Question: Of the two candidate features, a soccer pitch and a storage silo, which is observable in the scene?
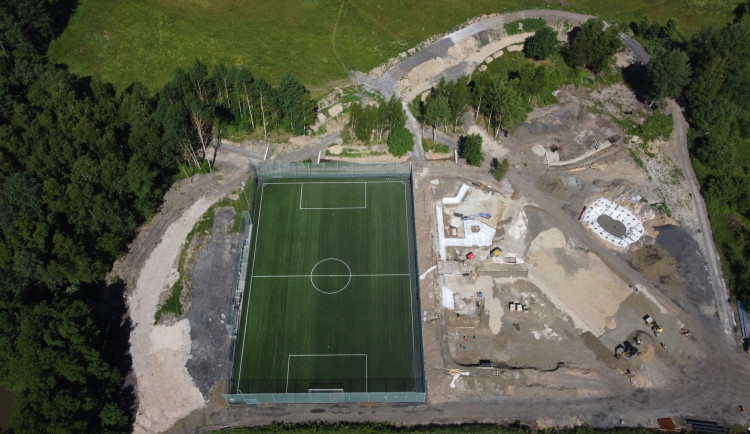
soccer pitch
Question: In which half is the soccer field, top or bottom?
bottom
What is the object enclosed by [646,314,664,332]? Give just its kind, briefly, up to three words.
vehicle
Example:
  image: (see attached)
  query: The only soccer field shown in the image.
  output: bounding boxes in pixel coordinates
[230,176,423,402]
